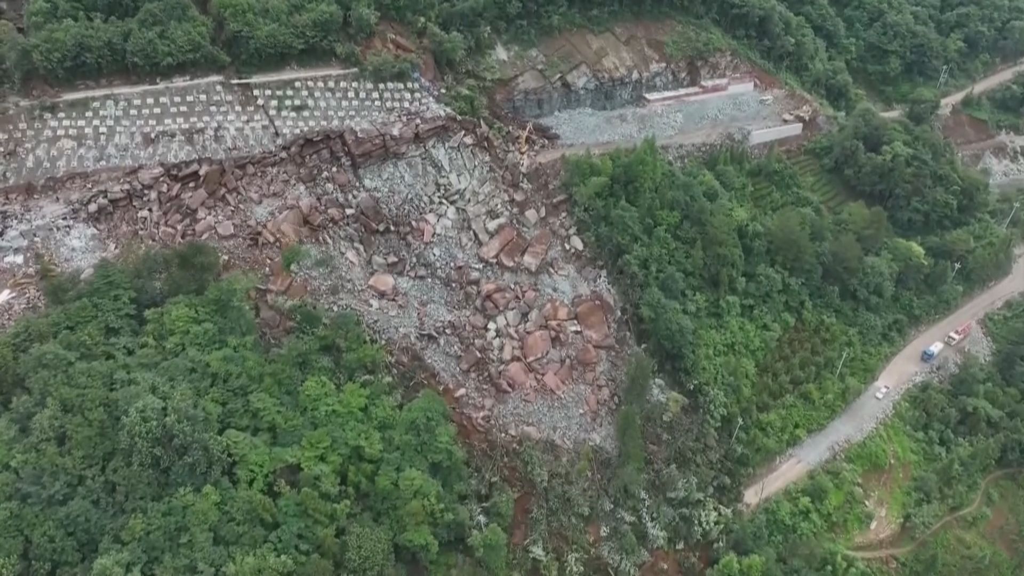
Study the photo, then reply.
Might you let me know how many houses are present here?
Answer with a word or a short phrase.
0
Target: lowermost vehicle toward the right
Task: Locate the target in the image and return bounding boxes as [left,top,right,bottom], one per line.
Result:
[874,379,893,398]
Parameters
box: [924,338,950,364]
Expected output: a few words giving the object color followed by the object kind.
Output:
white truck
